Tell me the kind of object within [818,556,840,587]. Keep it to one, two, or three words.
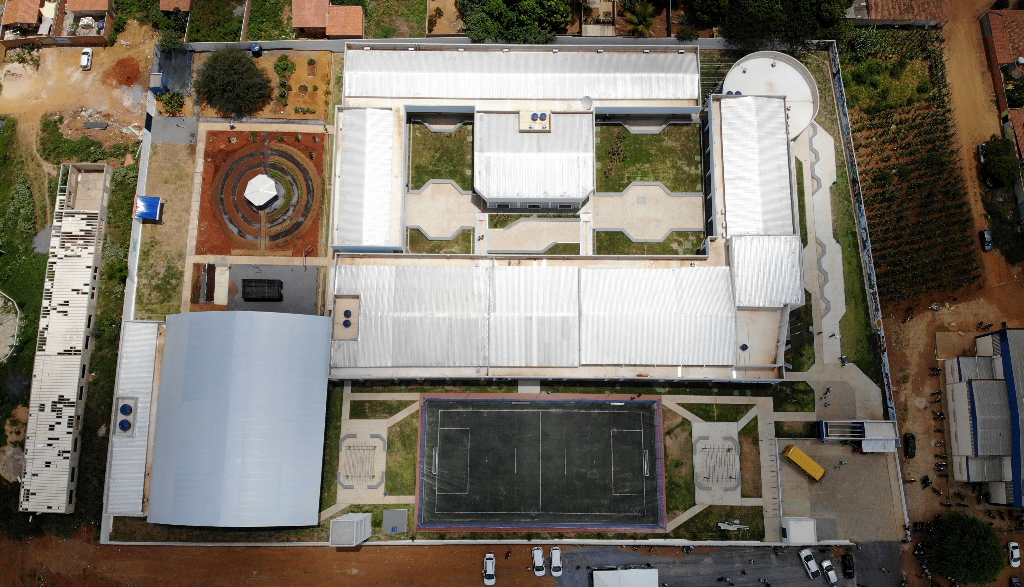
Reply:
car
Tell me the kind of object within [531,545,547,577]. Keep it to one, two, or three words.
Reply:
vehicle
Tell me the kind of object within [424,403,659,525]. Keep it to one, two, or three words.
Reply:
sports field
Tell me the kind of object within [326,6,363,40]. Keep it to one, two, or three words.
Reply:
house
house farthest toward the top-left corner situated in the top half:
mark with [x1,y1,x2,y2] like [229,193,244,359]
[2,0,48,32]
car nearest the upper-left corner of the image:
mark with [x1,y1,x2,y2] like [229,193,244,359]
[79,49,96,70]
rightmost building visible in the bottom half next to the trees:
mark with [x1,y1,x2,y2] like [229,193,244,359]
[934,328,1024,508]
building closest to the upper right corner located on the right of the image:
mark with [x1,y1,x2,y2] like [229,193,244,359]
[981,12,1024,70]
